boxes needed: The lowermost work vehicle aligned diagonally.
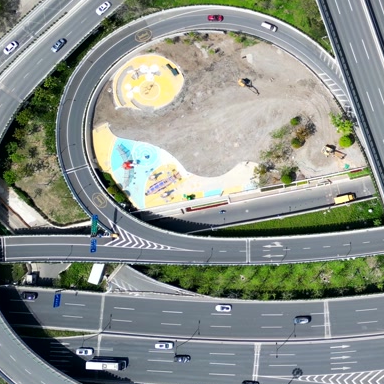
[323,143,345,159]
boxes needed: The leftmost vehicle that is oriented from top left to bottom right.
[237,77,257,92]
